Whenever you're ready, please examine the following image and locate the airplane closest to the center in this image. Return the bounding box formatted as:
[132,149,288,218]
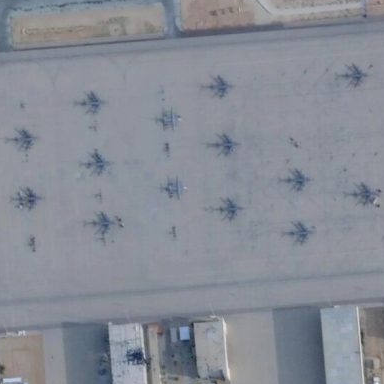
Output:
[166,177,183,199]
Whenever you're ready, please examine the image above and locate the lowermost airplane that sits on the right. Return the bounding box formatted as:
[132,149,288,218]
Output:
[291,222,315,245]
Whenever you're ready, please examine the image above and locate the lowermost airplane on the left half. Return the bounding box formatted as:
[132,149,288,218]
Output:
[93,213,117,235]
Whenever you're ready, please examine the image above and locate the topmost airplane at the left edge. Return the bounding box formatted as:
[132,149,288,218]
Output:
[16,129,40,150]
